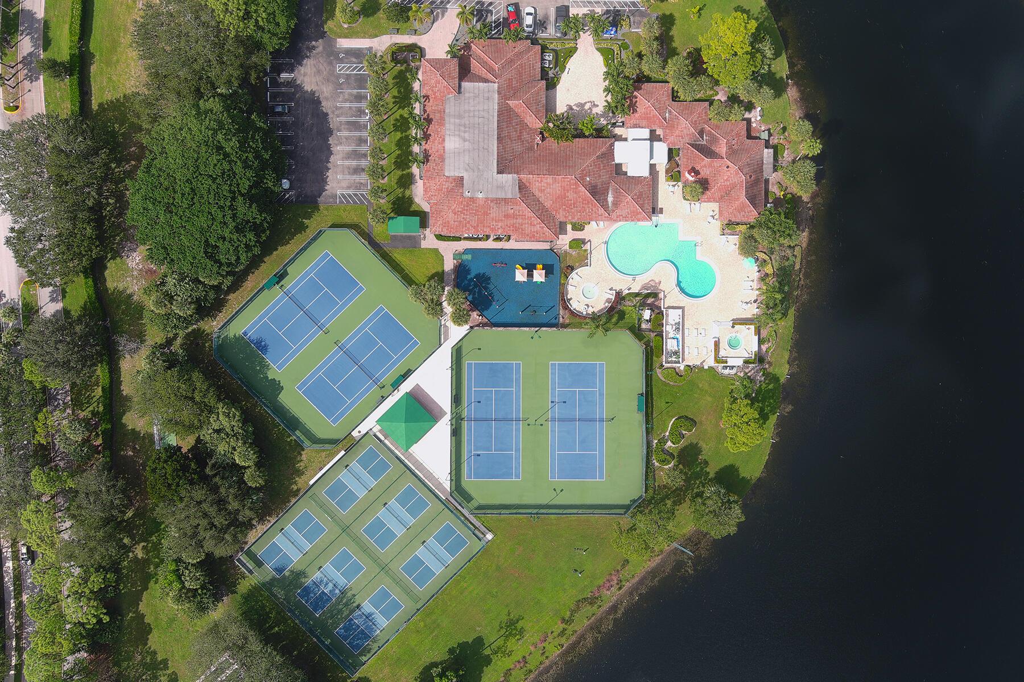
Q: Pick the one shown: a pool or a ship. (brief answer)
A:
pool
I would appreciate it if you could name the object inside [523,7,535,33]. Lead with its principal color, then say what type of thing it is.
white vehicle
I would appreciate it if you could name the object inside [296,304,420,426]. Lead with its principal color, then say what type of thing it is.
blue tennis court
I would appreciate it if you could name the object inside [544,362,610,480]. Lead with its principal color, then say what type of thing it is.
blue tennis court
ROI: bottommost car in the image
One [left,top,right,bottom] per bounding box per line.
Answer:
[19,542,35,565]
